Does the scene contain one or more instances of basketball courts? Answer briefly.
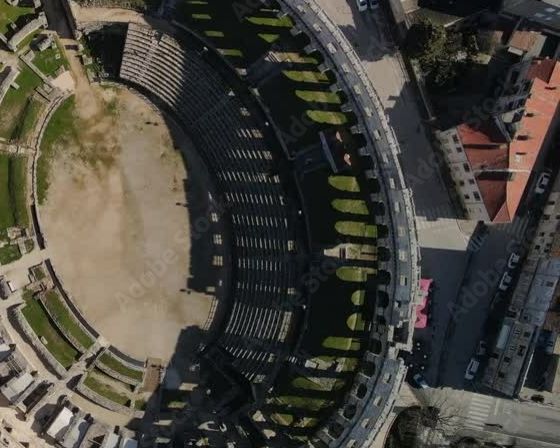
No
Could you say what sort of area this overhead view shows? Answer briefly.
residential area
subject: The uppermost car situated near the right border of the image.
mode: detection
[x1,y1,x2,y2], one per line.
[535,172,549,193]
